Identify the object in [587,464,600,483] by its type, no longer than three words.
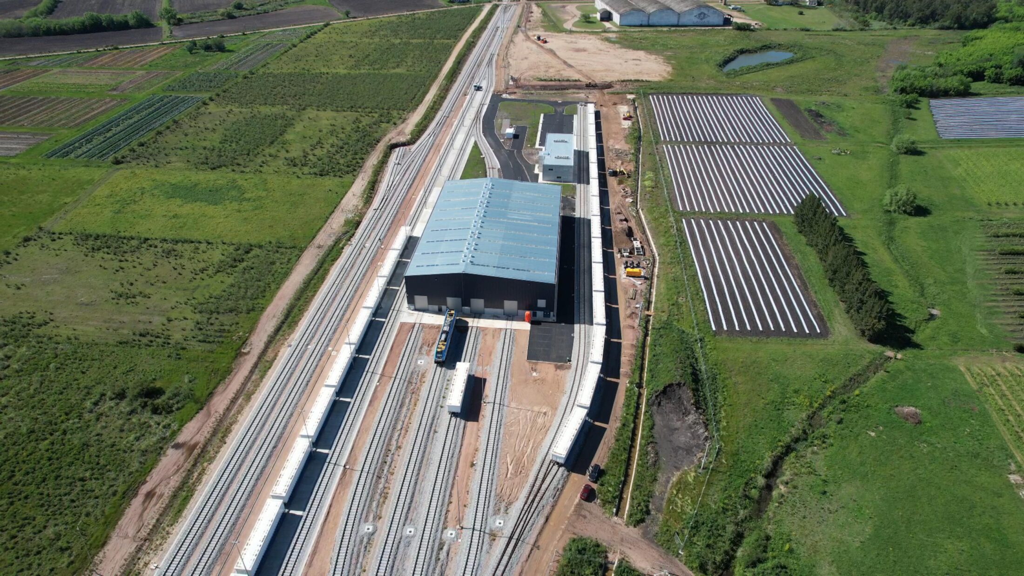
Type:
vehicle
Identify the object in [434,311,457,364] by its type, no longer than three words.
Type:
rail car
